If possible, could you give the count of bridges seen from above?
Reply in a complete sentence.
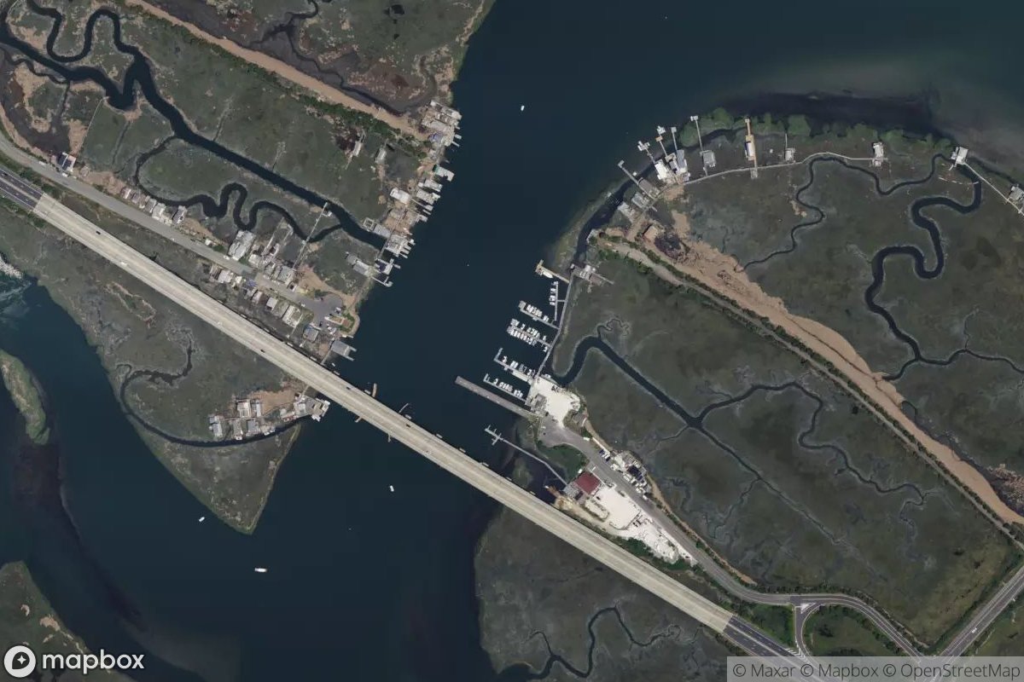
Just 1 bridge appears in this view.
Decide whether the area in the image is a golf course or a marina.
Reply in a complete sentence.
This looks like a marina.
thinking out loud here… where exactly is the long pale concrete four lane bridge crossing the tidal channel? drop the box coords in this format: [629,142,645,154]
[33,193,733,633]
